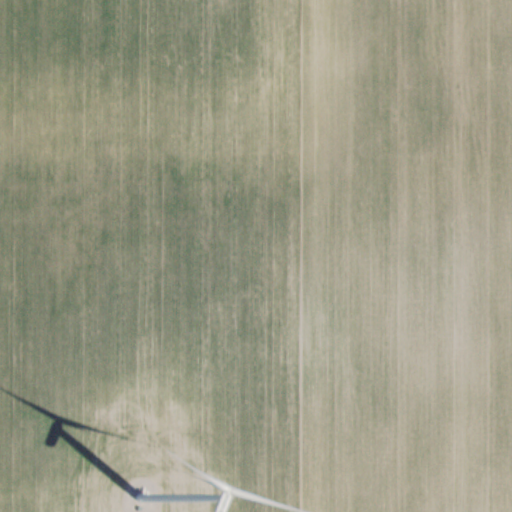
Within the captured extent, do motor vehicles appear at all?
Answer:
No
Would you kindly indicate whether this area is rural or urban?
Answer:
rural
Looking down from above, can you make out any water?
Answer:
No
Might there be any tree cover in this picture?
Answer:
No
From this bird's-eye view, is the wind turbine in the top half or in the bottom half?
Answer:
bottom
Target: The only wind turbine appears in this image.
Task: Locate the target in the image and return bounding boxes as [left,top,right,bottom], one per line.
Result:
[133,451,305,512]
